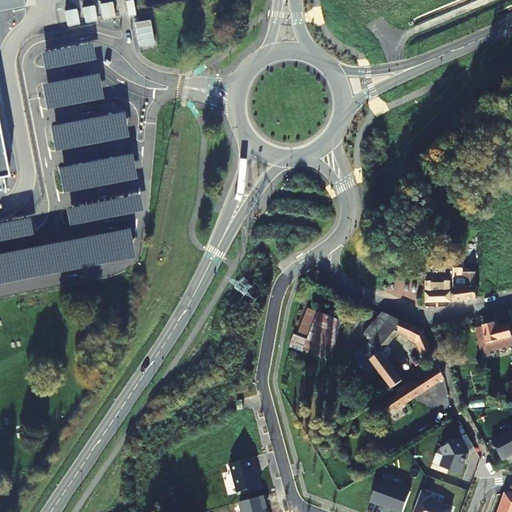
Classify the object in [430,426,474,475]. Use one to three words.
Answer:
house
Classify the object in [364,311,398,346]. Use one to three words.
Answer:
barn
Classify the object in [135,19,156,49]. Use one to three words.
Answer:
building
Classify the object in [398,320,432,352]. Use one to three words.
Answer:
house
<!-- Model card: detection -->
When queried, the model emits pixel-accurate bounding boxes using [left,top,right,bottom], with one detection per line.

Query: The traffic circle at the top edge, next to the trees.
[228,0,402,194]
